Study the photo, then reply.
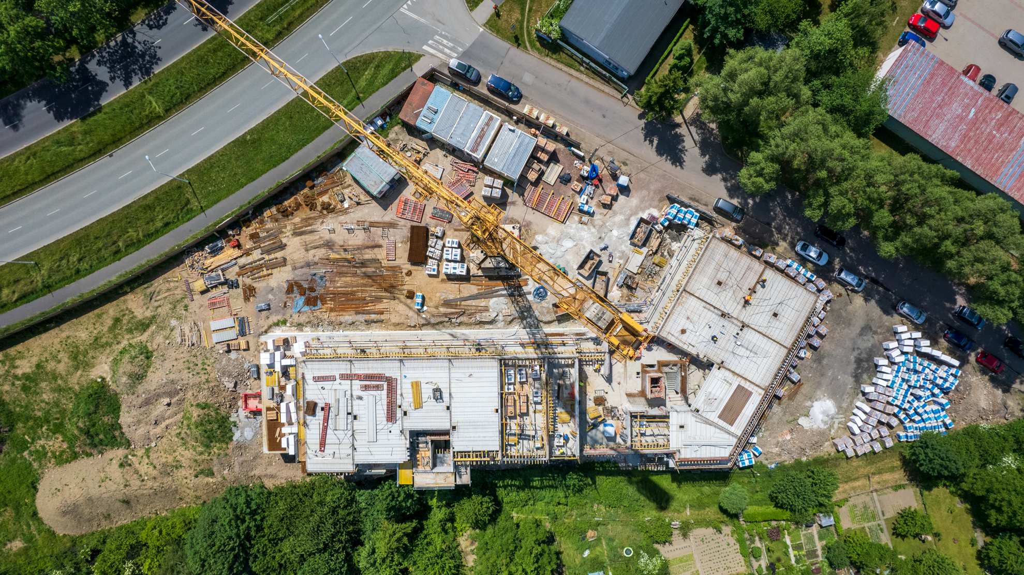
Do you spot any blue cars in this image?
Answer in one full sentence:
Yes, there's a blue car down there.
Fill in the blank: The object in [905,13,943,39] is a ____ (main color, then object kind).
red car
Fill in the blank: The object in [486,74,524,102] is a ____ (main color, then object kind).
blue car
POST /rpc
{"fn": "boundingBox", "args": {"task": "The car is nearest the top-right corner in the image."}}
[992,27,1024,56]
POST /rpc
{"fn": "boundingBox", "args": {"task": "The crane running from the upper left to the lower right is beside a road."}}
[180,0,662,372]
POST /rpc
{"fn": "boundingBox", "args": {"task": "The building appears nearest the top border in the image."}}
[559,0,682,81]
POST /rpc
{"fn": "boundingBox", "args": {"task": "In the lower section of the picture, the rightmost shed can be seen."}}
[818,513,840,533]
